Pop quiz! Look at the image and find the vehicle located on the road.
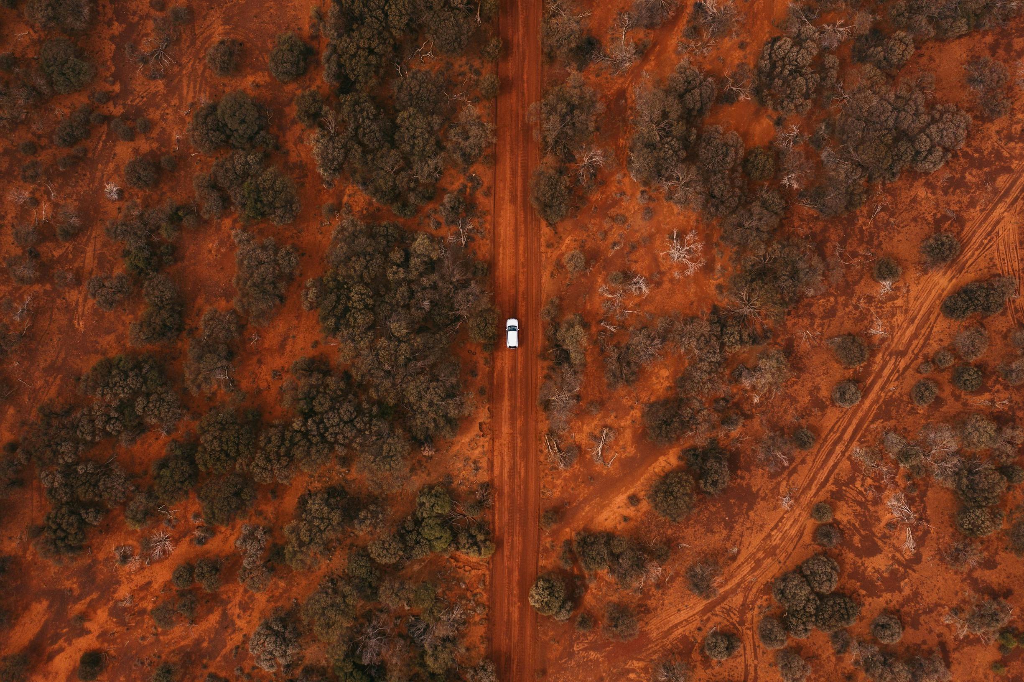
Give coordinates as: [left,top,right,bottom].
[506,318,520,349]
